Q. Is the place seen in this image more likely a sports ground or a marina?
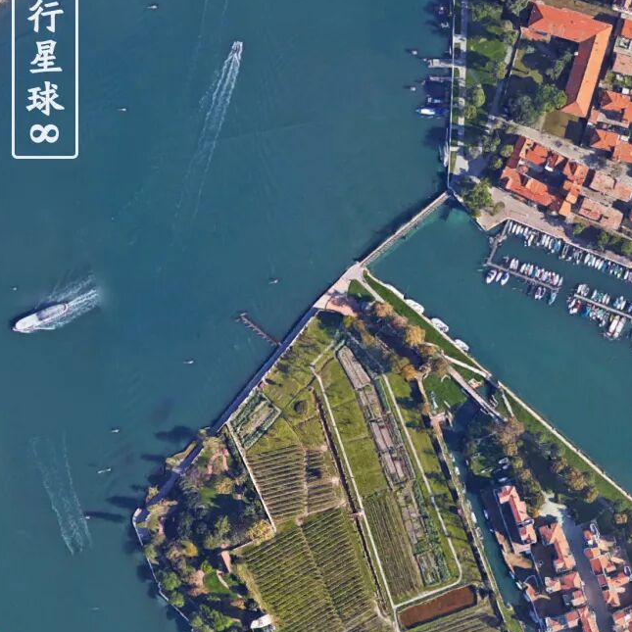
marina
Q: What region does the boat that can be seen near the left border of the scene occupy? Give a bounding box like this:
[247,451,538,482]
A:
[12,301,69,329]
